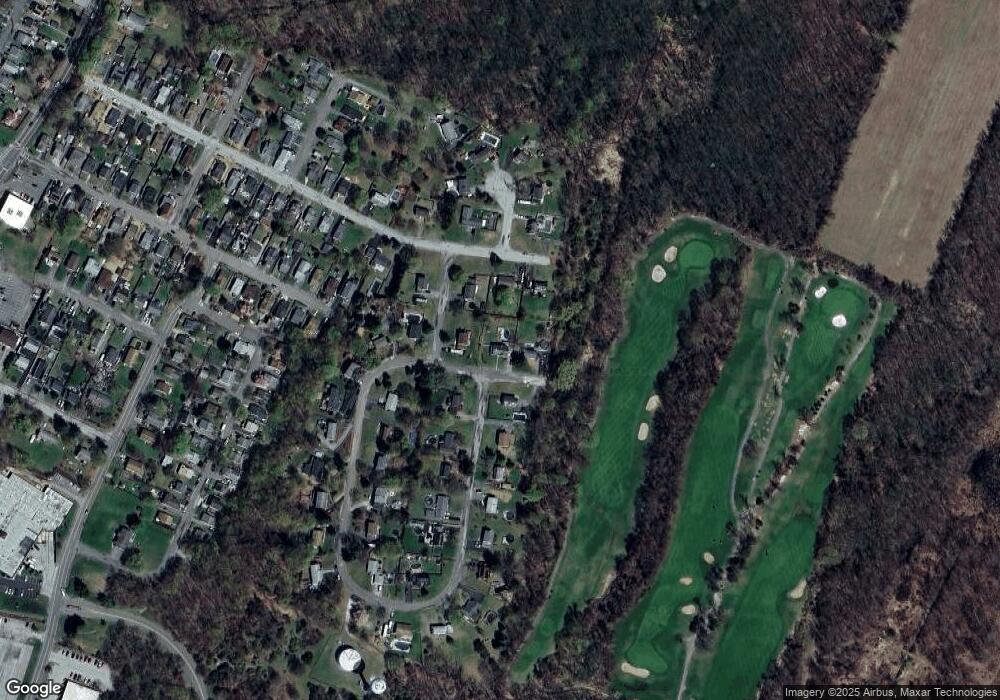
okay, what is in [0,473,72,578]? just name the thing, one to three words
building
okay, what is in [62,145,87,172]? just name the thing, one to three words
house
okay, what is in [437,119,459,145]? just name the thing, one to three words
house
